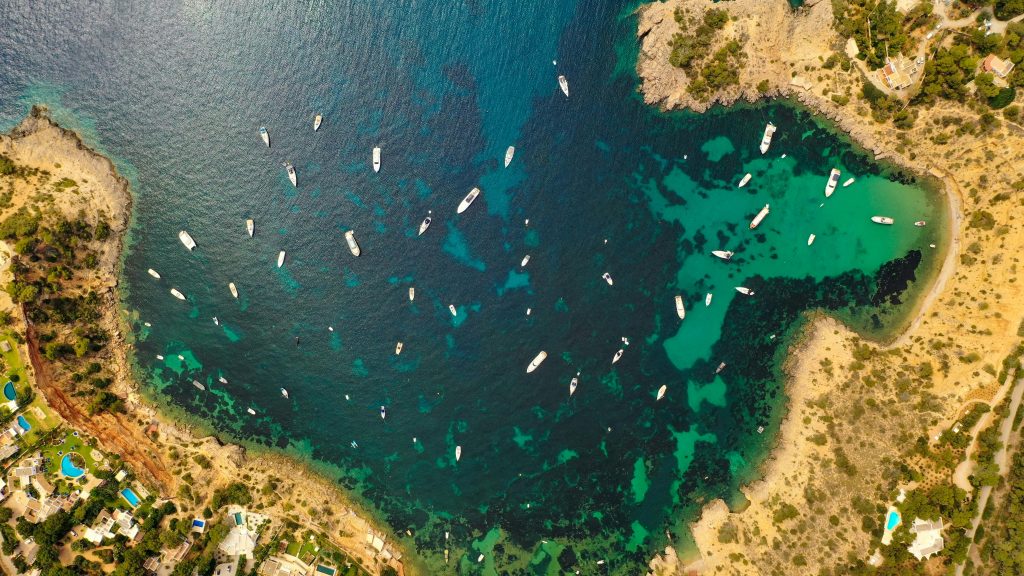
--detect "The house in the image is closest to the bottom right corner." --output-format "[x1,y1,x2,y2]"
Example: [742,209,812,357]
[907,517,943,560]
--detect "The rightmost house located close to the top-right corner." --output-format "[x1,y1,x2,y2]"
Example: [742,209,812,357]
[981,54,1015,76]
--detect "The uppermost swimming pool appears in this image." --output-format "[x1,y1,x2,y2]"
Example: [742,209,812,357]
[3,382,18,401]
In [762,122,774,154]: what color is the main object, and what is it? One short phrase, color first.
white boat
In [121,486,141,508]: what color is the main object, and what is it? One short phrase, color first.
blue swimming pool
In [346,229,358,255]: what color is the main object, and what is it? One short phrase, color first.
white boat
